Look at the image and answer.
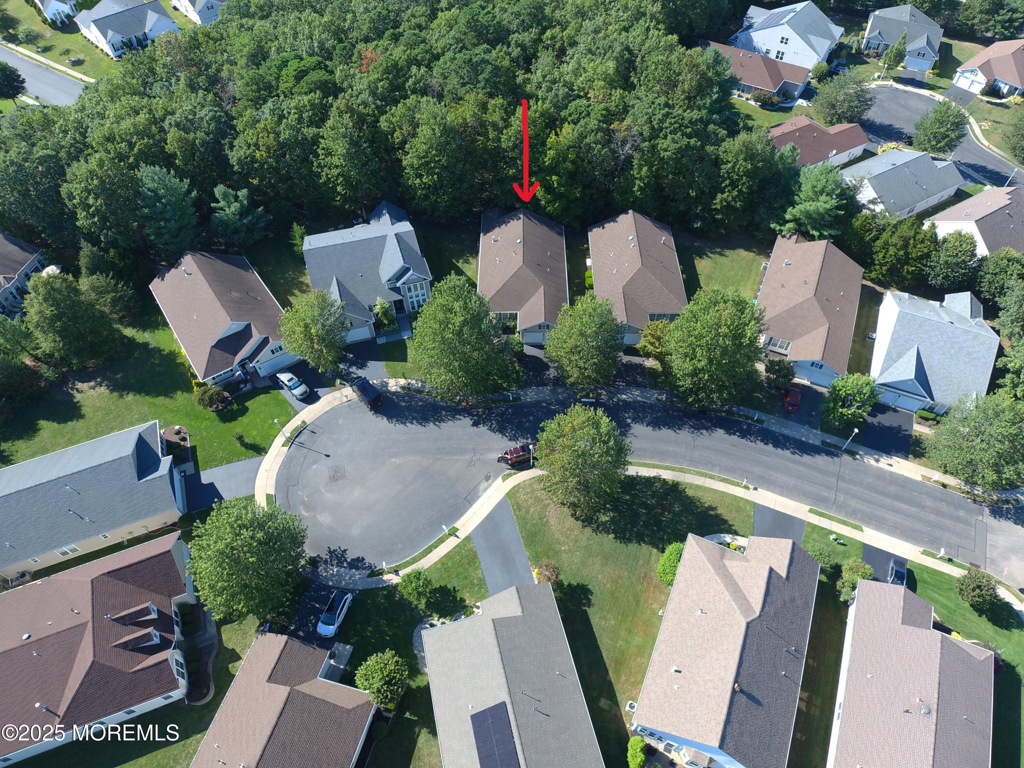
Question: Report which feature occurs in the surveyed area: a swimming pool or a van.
van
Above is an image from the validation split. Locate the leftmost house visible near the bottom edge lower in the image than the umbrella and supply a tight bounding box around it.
[0,532,193,768]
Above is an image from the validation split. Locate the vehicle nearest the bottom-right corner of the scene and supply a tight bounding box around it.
[886,553,911,588]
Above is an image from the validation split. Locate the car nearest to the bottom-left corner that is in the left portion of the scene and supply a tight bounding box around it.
[317,588,352,637]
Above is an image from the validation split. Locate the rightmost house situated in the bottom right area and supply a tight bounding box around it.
[826,579,995,768]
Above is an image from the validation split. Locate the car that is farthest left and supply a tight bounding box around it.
[277,370,308,399]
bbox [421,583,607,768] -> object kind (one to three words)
house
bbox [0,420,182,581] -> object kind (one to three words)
house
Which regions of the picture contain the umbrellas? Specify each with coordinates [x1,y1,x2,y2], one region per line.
[44,265,64,282]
